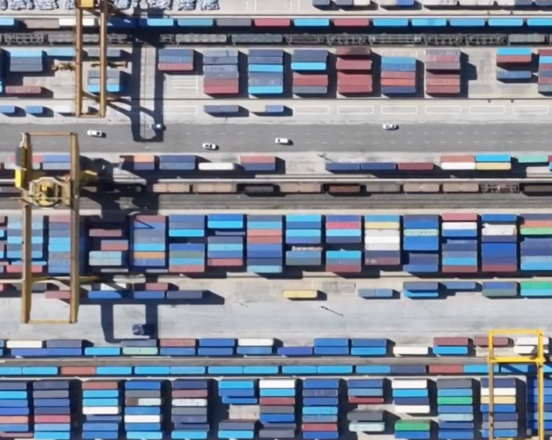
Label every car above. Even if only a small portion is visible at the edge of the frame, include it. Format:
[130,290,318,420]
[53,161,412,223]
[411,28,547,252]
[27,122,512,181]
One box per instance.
[384,124,397,130]
[149,124,163,130]
[275,138,288,143]
[202,143,215,149]
[88,131,101,136]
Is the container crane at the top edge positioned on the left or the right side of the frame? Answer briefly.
left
